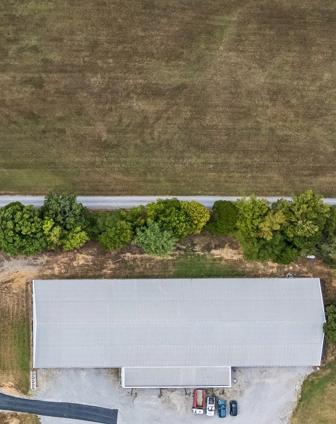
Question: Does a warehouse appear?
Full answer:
Yes, a warehouse can be made out from above.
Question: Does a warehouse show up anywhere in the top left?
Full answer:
No, I see no warehouse in the top left.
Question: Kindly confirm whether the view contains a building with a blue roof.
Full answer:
No, there isn't any building with a blue roof down there.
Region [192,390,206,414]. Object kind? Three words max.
vehicle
